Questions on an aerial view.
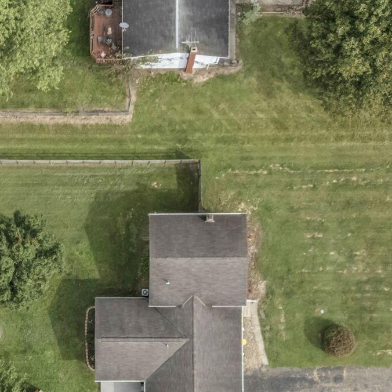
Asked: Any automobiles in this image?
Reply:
No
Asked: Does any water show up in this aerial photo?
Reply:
No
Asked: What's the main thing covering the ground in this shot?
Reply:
grass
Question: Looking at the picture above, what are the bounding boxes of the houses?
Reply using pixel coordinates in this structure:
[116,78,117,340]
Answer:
[122,0,230,74]
[95,211,257,392]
